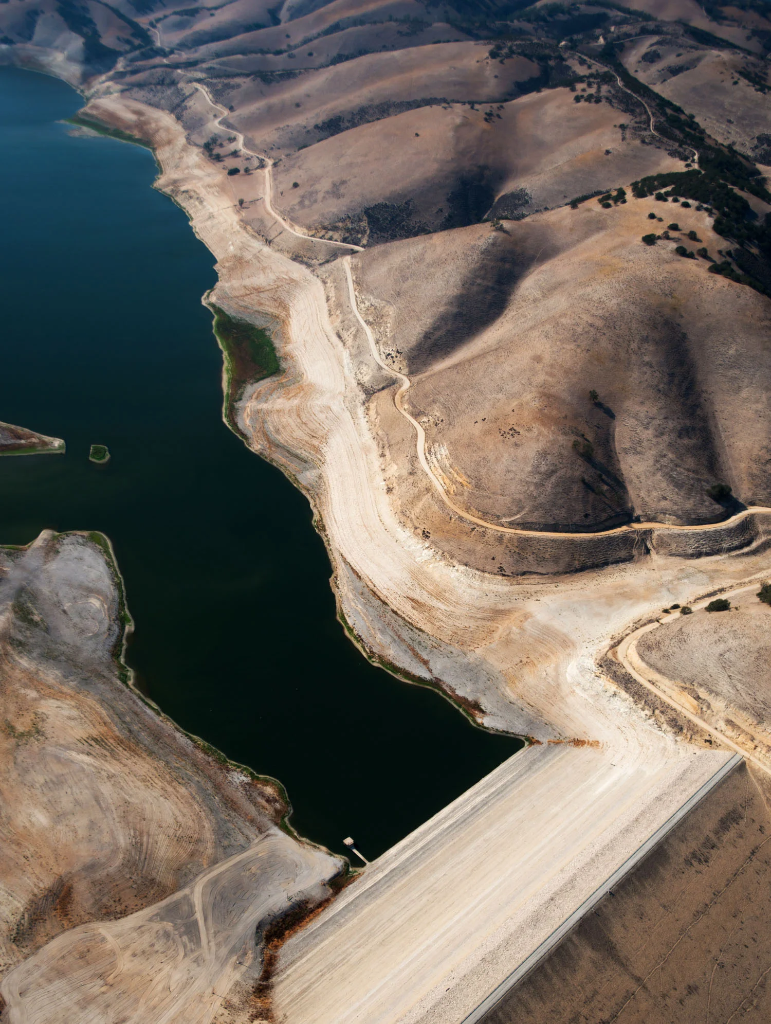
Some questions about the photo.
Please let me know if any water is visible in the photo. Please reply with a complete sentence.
Yes, there's water in this view.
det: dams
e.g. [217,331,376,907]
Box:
[274,740,771,1024]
